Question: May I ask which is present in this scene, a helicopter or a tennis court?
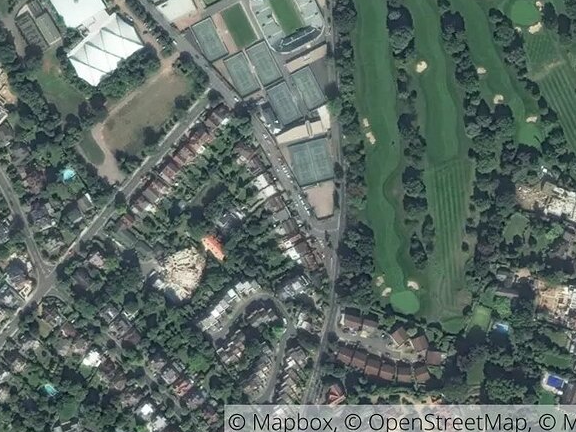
tennis court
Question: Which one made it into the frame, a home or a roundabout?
home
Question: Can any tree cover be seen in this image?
Yes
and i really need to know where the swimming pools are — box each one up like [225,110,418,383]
[494,321,510,333]
[546,374,564,390]
[61,168,76,180]
[44,383,56,395]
